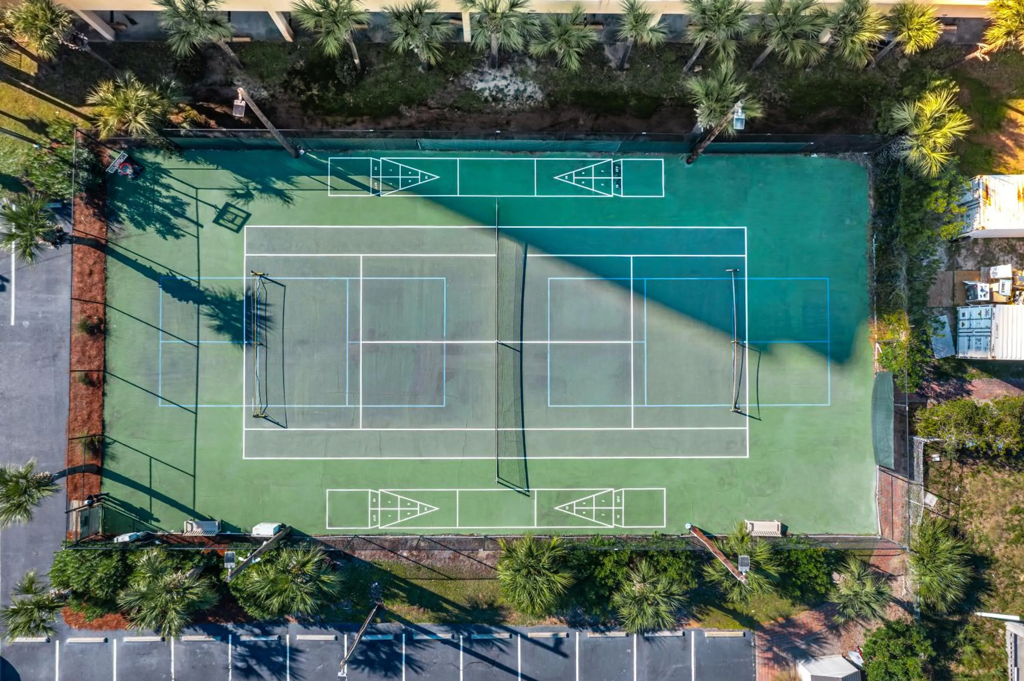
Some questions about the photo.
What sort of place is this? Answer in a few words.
sports ground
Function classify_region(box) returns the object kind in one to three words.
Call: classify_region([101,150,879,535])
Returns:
tennis court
